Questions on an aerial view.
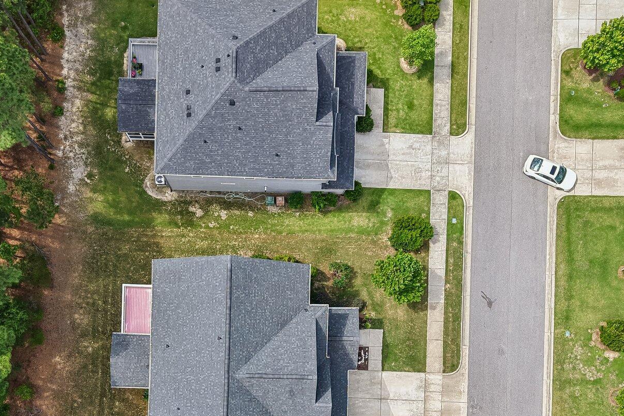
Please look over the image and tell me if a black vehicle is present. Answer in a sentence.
No, the scene contains no black vehicle.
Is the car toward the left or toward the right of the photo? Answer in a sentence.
It is on the right.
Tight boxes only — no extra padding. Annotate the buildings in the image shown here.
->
[116,0,368,194]
[110,255,359,416]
